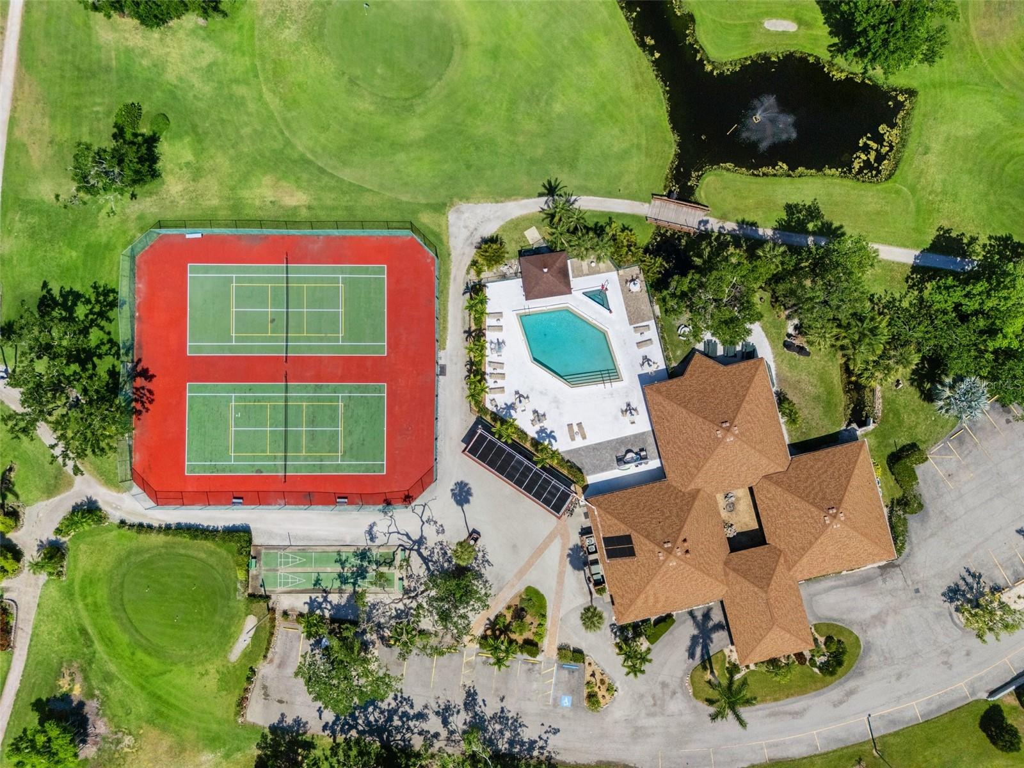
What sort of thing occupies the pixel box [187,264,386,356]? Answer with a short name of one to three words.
tennis court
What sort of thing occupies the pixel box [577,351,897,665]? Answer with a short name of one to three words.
building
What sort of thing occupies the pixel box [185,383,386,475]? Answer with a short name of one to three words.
tennis court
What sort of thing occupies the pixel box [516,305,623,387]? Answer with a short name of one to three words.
swimming pool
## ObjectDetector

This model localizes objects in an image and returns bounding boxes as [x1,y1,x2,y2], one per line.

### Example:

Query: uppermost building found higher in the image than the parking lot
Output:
[519,251,573,301]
